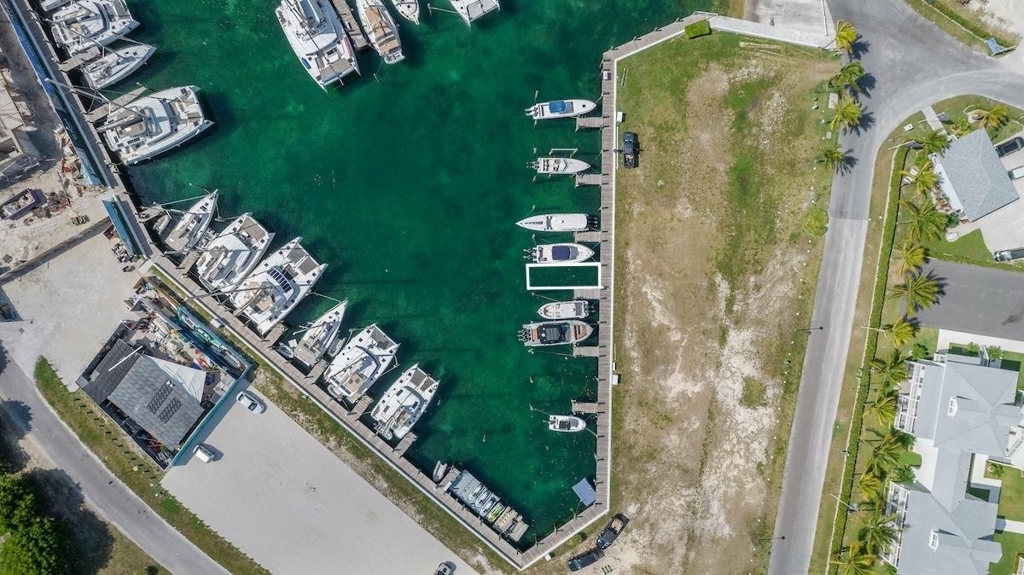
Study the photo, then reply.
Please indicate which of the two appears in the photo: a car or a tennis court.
car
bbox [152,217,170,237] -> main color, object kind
gray boat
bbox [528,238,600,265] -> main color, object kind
white boat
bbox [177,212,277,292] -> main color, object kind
white boat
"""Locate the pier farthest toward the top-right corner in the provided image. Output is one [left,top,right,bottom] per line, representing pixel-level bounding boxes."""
[604,10,716,60]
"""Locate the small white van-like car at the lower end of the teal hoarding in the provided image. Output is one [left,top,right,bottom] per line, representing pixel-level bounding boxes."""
[191,444,216,465]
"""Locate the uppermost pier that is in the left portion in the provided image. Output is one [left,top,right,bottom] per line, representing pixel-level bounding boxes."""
[332,0,368,49]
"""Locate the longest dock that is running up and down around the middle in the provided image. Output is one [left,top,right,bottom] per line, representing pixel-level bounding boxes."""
[595,53,614,508]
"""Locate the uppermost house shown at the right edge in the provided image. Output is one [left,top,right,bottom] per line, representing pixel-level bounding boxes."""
[924,128,1020,222]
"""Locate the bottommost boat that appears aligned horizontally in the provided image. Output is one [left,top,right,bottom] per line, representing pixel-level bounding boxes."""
[534,408,597,437]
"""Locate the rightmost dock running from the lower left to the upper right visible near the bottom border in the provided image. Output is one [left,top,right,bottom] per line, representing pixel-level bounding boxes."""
[521,502,610,568]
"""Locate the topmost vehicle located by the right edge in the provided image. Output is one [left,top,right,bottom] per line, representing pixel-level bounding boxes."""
[995,134,1024,157]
